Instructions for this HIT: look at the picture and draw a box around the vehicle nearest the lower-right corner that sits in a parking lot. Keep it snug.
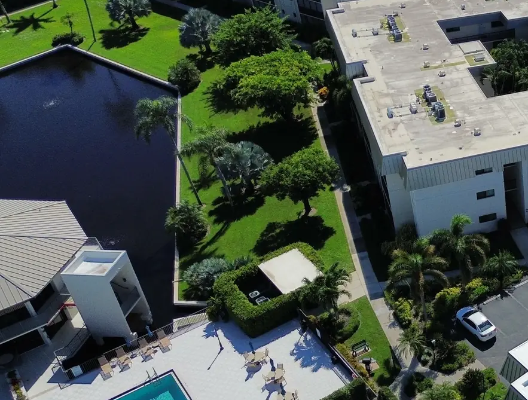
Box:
[455,307,501,344]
